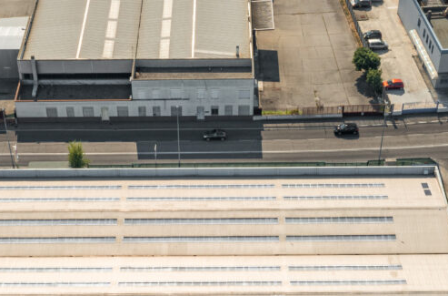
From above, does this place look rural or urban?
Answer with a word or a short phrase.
urban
